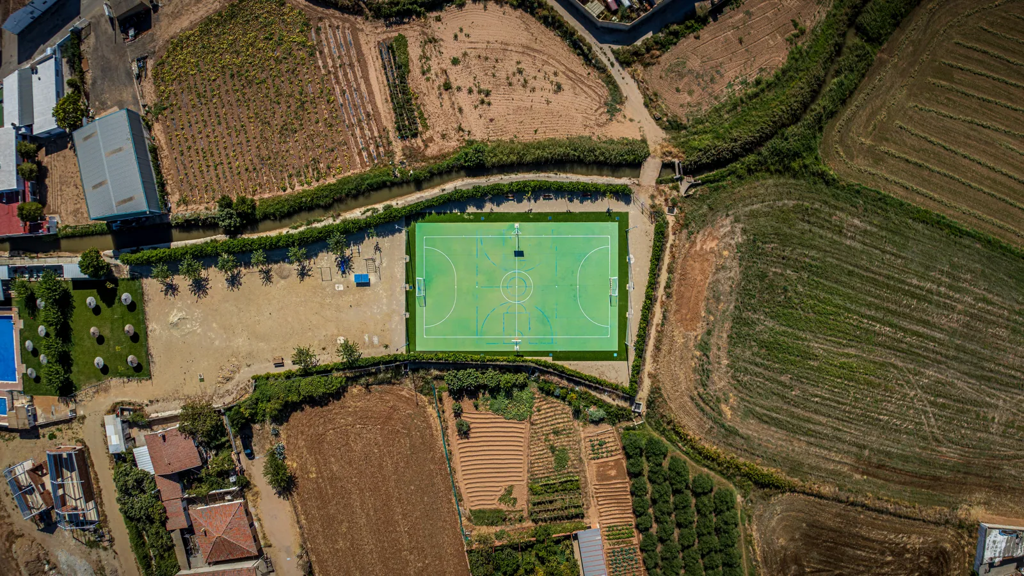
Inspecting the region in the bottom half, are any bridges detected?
No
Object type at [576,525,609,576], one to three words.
shed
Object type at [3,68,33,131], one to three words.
building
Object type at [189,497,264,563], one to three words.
house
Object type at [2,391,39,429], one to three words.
building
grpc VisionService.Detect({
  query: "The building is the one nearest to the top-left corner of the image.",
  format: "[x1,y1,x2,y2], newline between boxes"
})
[2,0,76,40]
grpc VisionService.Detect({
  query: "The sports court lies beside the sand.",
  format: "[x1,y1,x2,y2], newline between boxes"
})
[416,222,619,351]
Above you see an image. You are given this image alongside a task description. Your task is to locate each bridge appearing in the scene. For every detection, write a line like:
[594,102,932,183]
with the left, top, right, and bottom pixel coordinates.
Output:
[639,155,663,186]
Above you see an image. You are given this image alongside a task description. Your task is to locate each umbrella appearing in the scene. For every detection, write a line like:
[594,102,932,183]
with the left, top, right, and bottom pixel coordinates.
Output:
[85,295,96,306]
[93,357,104,367]
[36,326,47,336]
[121,293,132,304]
[124,324,134,335]
[38,354,48,364]
[23,341,34,352]
[26,367,37,378]
[89,326,100,337]
[127,355,138,365]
